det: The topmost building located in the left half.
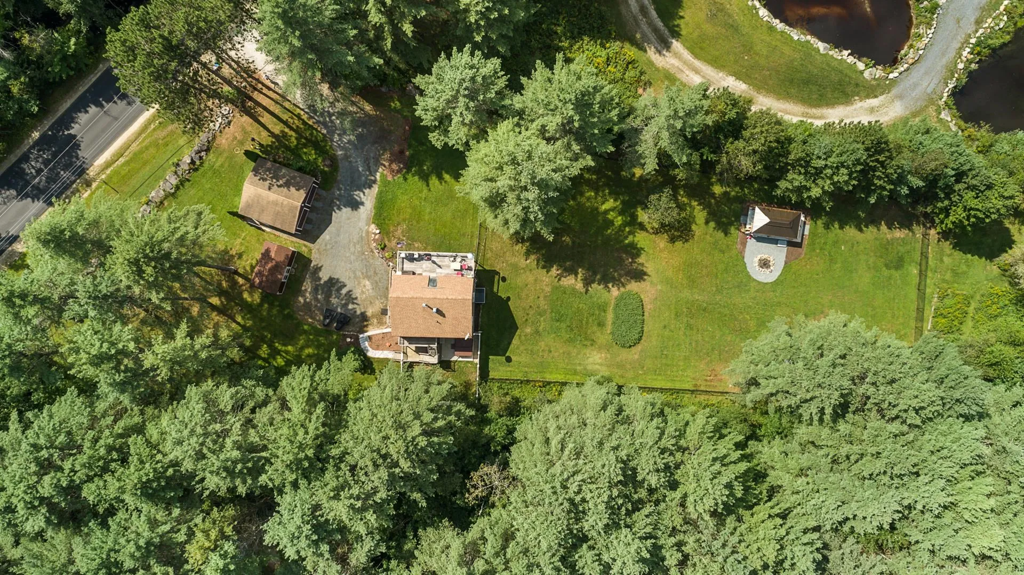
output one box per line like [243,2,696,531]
[239,158,319,233]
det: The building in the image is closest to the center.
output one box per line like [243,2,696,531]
[388,251,485,367]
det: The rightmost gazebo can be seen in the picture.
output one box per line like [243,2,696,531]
[740,205,809,249]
